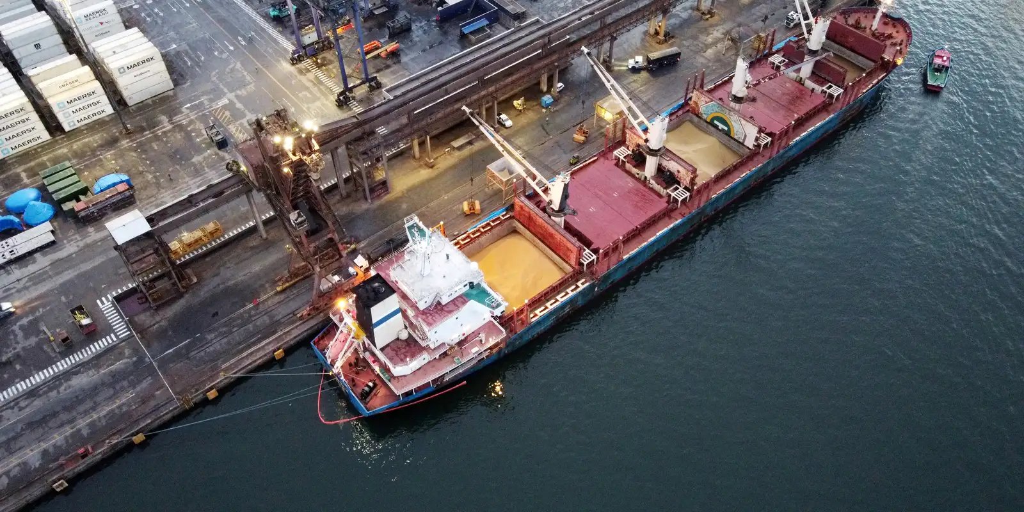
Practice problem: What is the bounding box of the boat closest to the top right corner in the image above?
[926,48,952,93]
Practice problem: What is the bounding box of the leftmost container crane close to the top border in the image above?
[285,0,380,104]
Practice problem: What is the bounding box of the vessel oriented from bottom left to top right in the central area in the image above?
[311,0,912,419]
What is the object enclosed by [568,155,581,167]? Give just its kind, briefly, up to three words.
vehicle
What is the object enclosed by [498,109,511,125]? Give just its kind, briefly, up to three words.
vehicle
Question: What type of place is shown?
port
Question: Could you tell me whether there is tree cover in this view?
No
